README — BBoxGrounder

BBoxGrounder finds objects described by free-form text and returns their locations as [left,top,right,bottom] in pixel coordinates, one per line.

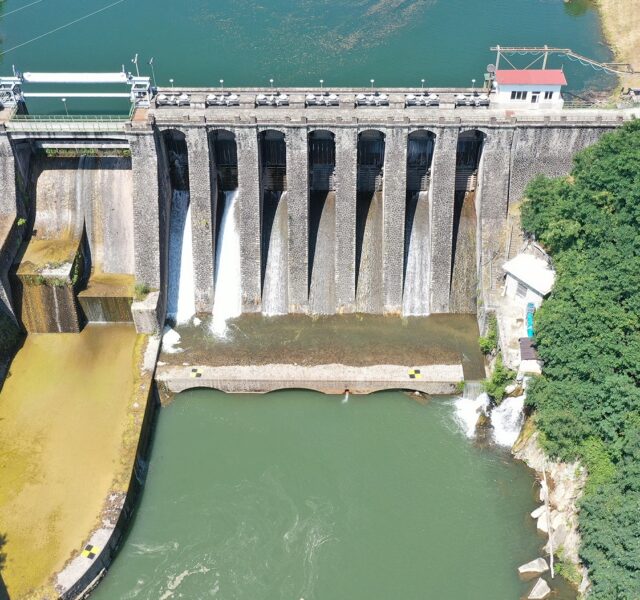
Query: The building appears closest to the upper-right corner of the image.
[492,63,569,108]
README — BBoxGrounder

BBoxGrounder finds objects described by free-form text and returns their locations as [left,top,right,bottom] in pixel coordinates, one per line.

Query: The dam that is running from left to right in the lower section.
[152,366,465,396]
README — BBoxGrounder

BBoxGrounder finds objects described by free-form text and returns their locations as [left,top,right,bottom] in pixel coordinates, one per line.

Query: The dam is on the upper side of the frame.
[0,88,639,336]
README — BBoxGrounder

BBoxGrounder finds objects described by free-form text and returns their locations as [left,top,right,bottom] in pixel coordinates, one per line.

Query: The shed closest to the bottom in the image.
[514,338,548,377]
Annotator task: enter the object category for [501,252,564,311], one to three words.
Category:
shed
